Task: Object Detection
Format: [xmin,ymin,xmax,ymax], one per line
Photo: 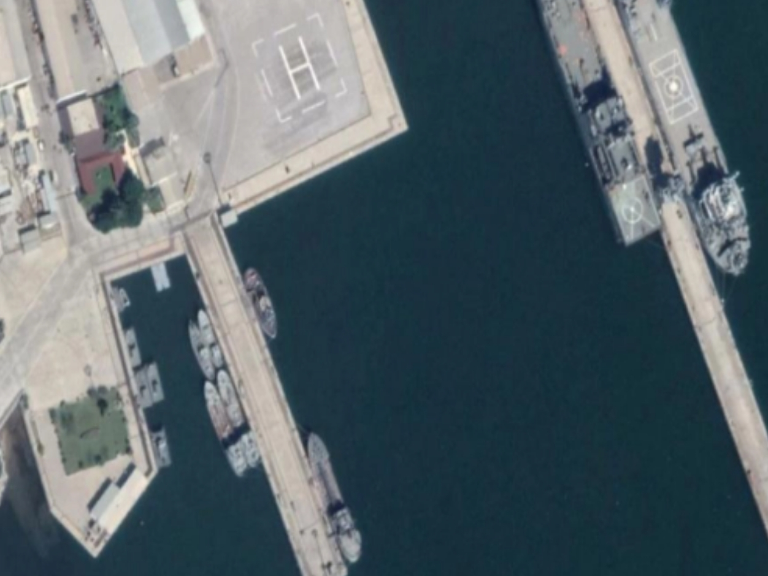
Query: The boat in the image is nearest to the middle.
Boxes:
[244,267,277,338]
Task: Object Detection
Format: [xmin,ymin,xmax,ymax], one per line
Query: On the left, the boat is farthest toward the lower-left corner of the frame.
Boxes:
[151,430,171,467]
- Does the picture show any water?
Yes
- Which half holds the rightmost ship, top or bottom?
top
